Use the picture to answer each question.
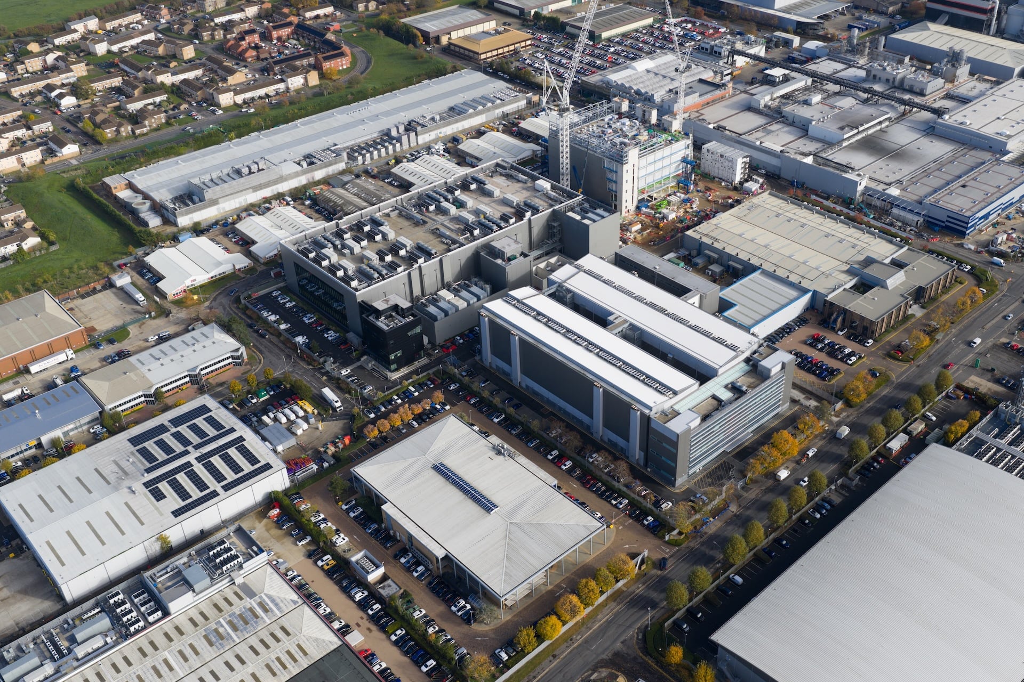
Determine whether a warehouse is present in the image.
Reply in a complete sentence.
Yes, the frame does contain a warehouse.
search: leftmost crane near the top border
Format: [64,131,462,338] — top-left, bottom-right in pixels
[539,0,599,191]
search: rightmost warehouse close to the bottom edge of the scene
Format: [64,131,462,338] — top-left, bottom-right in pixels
[707,443,1024,682]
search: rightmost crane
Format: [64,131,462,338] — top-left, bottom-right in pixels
[664,0,698,136]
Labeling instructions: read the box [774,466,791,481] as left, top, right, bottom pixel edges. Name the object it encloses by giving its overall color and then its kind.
white vehicle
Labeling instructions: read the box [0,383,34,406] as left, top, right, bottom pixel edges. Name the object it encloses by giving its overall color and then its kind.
white truck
